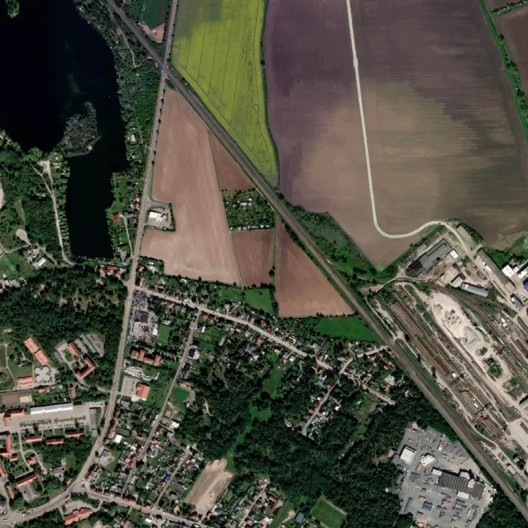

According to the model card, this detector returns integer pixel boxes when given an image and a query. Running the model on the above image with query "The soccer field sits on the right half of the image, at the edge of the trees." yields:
[311,497,347,528]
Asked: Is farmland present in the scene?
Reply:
Yes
